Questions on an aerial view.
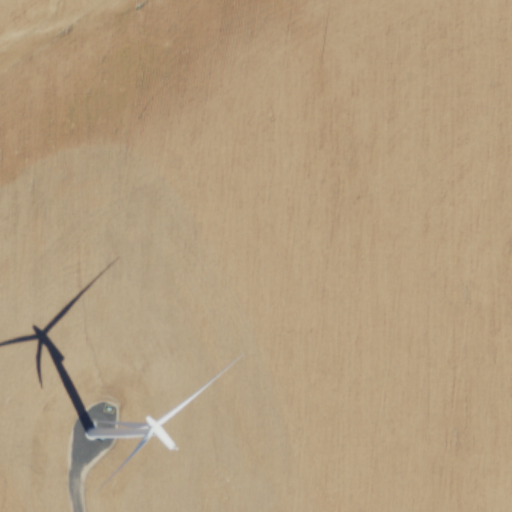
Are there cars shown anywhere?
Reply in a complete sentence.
No, this view has no car in it.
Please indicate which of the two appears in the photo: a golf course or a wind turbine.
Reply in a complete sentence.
I can see a wind turbine in this picture.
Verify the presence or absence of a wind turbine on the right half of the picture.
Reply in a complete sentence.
No, I can find no wind turbine on the right half of the picture.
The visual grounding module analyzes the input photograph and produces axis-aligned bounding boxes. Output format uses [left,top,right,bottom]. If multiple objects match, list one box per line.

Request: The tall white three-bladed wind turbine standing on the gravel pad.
[86,354,246,486]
